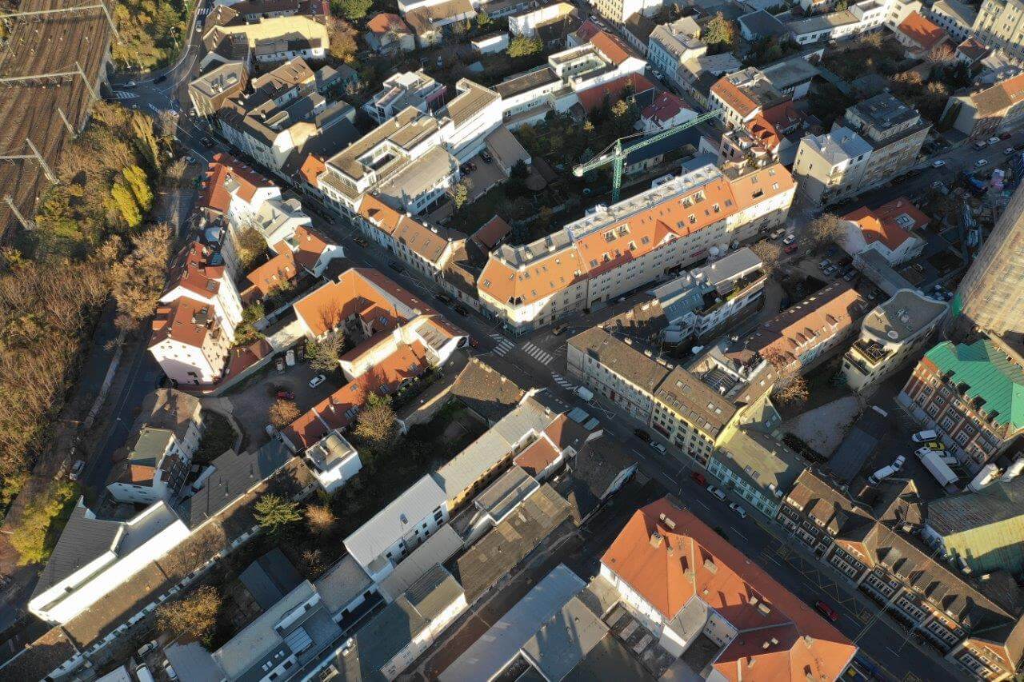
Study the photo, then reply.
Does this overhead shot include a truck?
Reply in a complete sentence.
Yes, a truck is visible in the scene.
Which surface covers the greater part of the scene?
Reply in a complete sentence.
What you mostly see from above here is buildings.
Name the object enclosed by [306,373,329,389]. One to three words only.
car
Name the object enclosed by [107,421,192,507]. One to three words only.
house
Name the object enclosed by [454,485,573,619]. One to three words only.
building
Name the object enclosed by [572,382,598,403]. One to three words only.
vehicle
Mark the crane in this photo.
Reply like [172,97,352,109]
[568,108,722,208]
